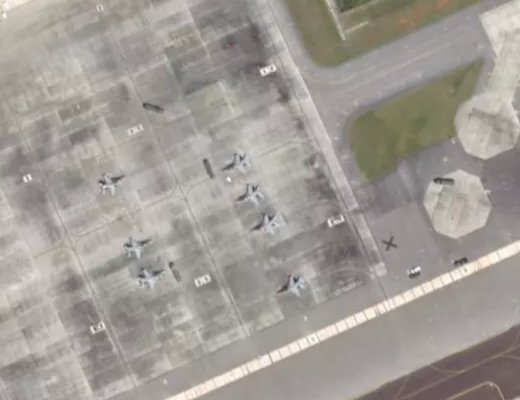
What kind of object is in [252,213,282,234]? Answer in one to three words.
airplane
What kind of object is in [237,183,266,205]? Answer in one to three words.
airplane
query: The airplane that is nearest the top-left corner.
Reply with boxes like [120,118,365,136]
[95,173,125,194]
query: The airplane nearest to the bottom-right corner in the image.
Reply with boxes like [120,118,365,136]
[278,275,307,296]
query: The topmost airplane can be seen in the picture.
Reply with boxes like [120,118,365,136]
[223,152,253,174]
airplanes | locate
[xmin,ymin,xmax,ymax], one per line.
[252,213,282,234]
[122,238,152,259]
[95,173,125,194]
[135,268,165,289]
[237,183,266,205]
[223,152,253,174]
[278,275,307,296]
